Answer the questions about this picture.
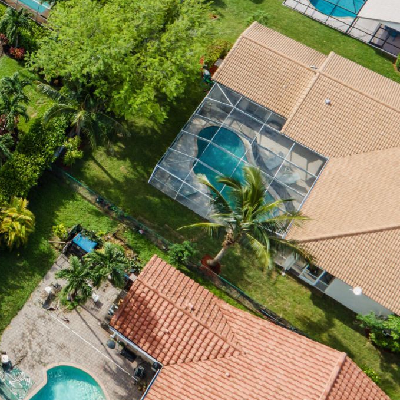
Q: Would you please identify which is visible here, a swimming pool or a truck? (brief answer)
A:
swimming pool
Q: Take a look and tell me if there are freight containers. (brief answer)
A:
No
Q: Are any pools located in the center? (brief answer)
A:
Yes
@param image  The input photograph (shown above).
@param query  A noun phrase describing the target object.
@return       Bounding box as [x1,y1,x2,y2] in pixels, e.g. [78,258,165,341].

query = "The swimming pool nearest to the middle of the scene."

[190,122,278,215]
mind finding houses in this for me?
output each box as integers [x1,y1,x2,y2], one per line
[352,0,400,60]
[106,254,391,400]
[209,21,400,315]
